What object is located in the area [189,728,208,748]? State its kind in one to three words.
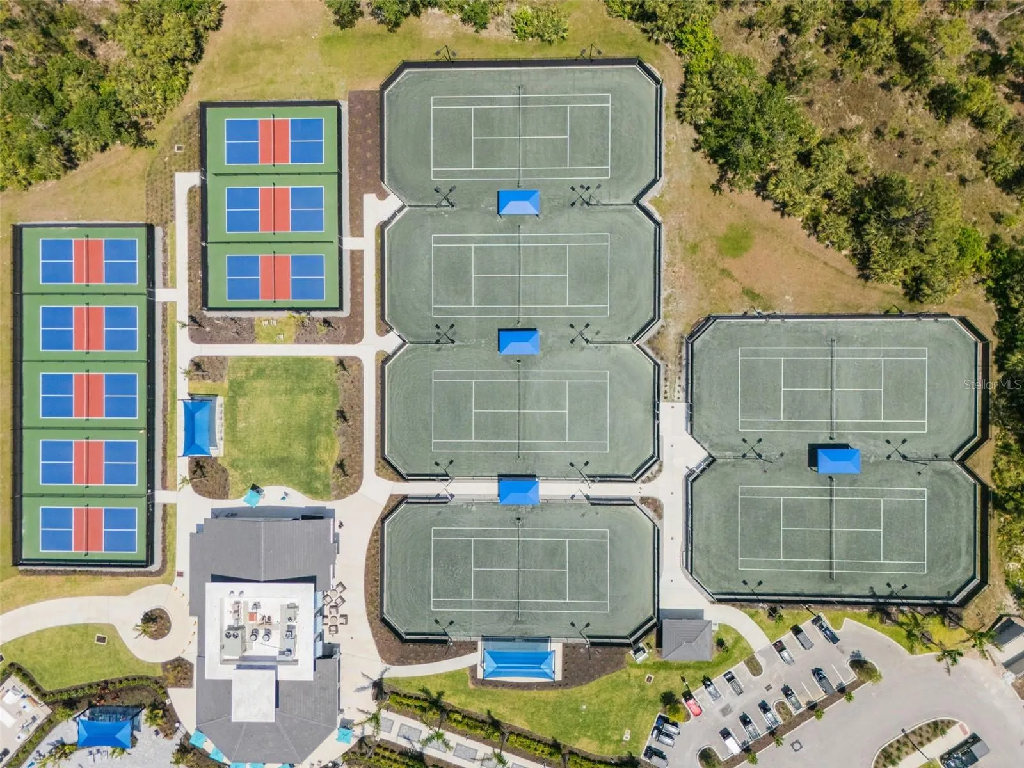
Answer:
umbrella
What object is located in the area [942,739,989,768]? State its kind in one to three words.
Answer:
truck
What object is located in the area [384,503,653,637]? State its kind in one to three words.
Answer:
tennis court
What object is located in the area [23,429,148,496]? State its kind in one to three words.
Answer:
sports court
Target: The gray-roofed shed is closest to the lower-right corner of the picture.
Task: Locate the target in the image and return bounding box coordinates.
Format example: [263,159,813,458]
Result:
[994,643,1024,677]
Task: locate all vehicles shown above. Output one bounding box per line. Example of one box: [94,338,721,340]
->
[655,727,675,747]
[817,622,839,644]
[684,693,703,716]
[814,672,835,695]
[775,644,795,666]
[725,673,744,696]
[741,718,760,741]
[703,678,721,701]
[942,739,989,768]
[759,704,779,727]
[648,747,668,768]
[792,627,814,649]
[722,731,741,755]
[783,688,803,711]
[660,716,679,736]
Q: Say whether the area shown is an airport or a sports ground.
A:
sports ground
